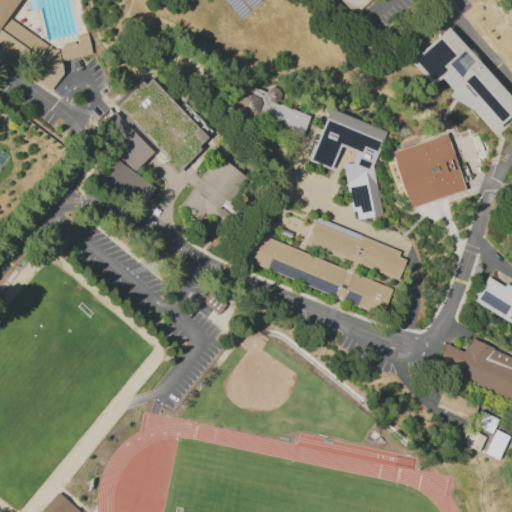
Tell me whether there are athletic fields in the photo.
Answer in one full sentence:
Yes, you can see an athletic field in this photo.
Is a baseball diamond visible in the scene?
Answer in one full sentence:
Yes, there's a baseball diamond down there.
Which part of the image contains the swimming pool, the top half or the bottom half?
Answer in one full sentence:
You can find the swimming pool in the top half.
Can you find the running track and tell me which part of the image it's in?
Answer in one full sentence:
You can find the running track in the bottom area of the picture.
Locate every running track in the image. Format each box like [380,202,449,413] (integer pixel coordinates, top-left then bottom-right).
[94,414,457,512]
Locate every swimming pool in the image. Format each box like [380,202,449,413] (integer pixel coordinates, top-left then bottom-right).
[13,0,89,49]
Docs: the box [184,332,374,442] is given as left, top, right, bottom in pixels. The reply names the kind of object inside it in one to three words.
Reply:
baseball field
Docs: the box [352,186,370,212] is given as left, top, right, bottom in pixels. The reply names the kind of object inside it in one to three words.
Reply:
solar panel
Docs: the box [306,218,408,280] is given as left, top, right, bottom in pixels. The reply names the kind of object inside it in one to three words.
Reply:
building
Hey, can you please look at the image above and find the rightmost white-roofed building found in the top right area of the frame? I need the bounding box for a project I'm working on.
[416,29,512,129]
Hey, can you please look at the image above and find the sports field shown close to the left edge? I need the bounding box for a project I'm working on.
[0,264,153,510]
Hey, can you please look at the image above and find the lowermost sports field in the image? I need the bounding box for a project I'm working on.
[164,438,440,512]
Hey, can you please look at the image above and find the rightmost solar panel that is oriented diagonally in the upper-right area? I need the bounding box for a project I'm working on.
[468,76,510,120]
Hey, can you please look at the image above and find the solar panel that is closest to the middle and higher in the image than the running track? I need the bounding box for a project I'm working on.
[270,259,338,294]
